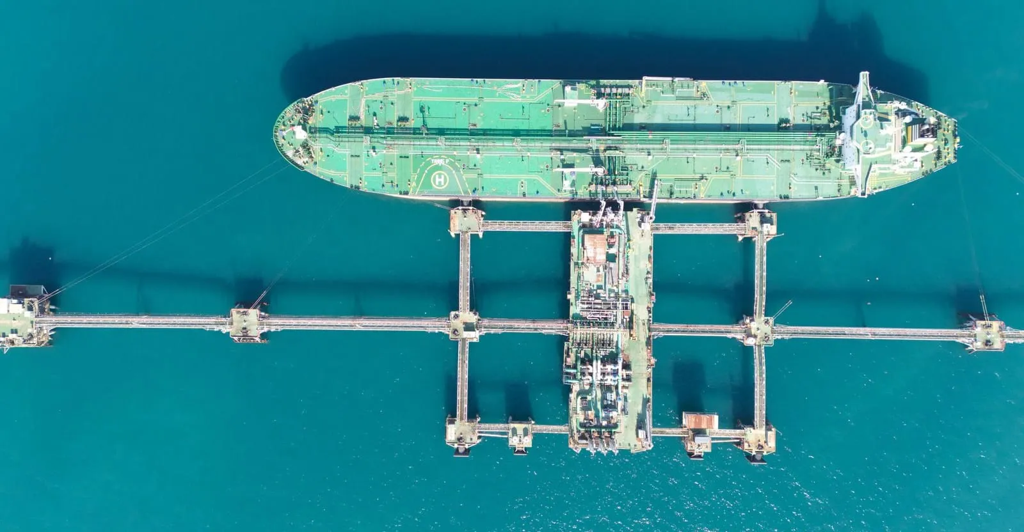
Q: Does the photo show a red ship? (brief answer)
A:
No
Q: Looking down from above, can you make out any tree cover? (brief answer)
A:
No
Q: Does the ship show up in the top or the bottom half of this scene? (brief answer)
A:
top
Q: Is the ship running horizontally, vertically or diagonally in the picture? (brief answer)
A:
horizontally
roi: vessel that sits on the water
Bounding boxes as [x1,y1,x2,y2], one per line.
[273,70,962,202]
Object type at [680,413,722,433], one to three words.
shed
